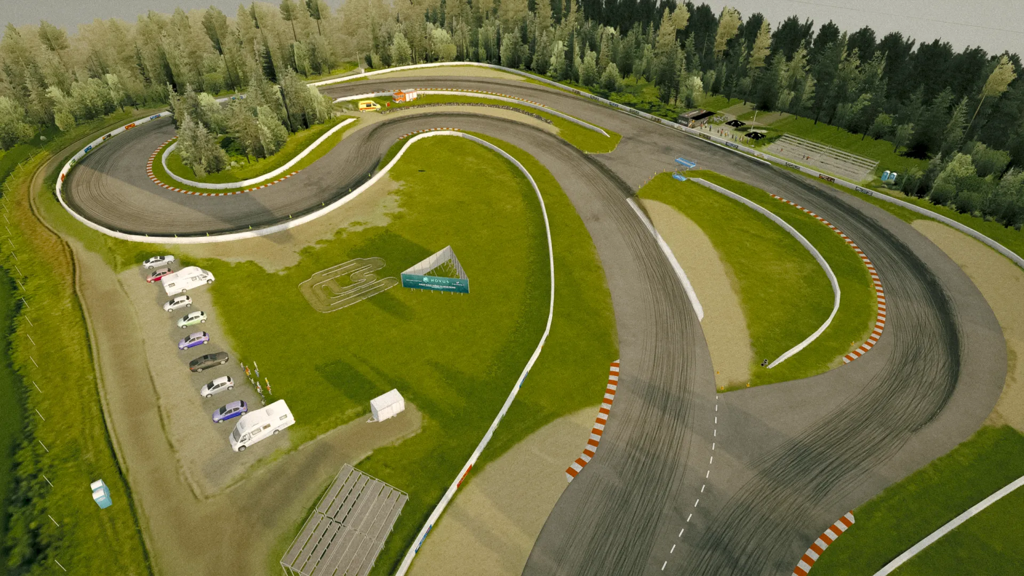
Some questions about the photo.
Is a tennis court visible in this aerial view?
No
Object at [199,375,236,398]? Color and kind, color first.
white car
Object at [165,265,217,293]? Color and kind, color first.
white camper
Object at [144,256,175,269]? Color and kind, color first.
white vehicle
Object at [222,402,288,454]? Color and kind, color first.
white camper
